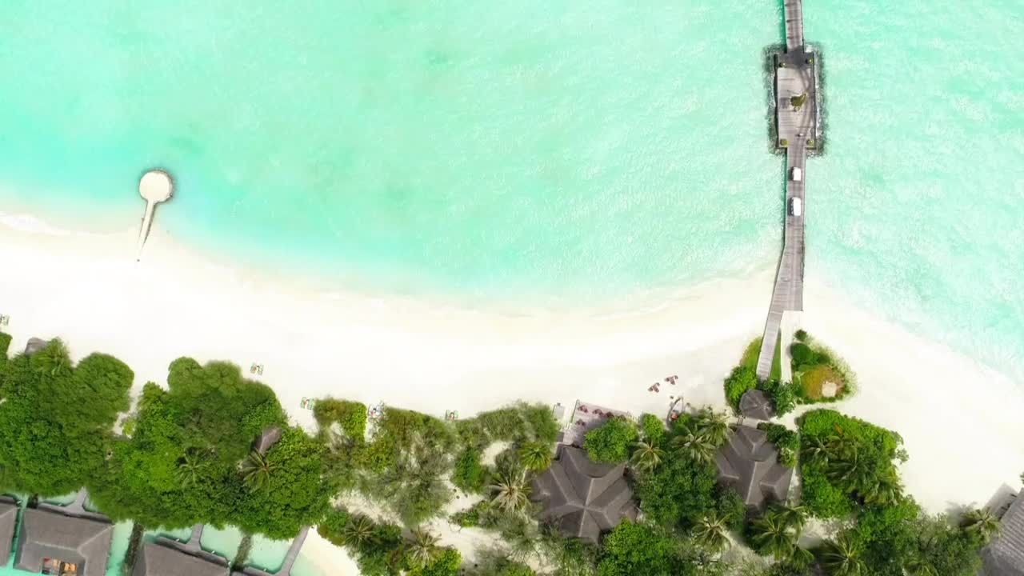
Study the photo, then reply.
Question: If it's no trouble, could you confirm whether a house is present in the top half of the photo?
No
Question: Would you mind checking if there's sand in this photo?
Yes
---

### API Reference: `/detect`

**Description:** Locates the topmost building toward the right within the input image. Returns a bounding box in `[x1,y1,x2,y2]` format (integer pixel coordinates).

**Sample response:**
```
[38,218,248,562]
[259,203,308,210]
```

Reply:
[740,390,773,420]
